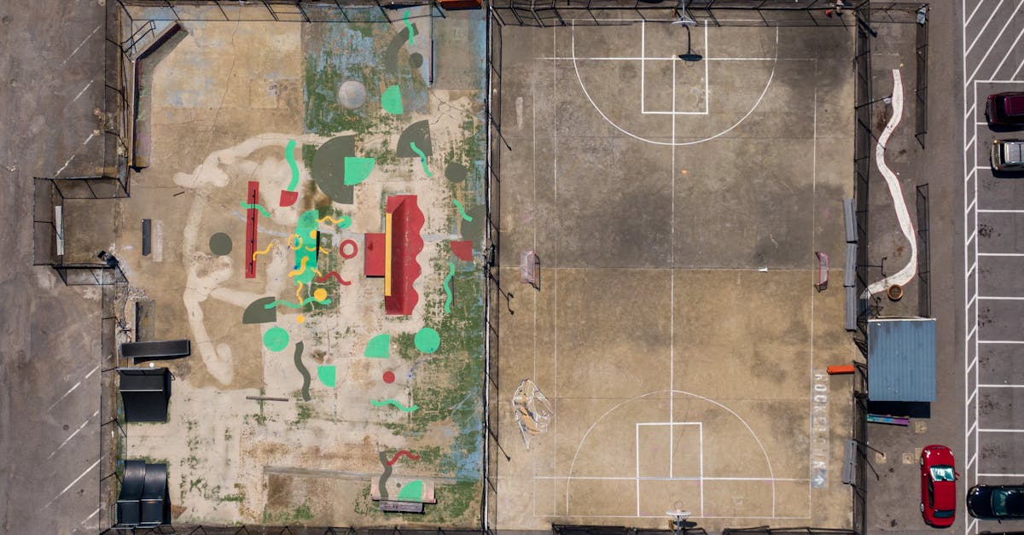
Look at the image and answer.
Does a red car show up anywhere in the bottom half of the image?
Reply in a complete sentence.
Yes, a red car appears in the bottom half of the image.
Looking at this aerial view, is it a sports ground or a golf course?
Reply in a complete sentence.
The area seen from above is a sports ground.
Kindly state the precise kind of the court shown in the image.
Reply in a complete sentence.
Looking closely, the court is a basketball court.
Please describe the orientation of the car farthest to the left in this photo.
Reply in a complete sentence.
The car farthest to the left runs up and down in the image.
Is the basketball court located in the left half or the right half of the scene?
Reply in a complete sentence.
The basketball court is on the right side of the image.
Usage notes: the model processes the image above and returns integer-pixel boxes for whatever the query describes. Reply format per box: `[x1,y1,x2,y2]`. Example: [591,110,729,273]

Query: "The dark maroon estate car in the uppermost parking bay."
[984,92,1024,128]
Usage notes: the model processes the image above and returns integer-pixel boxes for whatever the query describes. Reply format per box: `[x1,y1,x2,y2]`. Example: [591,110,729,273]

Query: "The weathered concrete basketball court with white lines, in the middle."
[488,9,855,529]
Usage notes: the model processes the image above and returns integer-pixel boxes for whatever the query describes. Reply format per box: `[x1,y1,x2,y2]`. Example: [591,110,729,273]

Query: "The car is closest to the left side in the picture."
[920,443,963,528]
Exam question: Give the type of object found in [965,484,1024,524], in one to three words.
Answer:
car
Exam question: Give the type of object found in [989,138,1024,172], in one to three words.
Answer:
car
